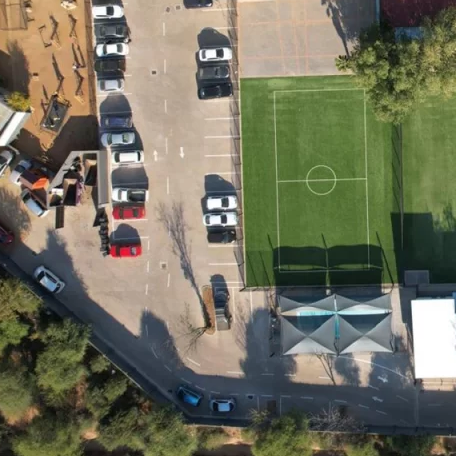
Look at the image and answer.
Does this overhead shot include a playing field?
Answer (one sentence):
Yes, a playing field is visible in the scene.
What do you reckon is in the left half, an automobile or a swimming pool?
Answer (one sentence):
Looking in the left half, you will find an automobile.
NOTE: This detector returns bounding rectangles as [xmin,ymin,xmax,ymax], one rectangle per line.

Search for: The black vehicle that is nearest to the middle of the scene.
[204,228,241,243]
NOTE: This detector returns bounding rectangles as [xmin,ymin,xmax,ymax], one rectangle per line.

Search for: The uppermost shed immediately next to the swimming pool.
[404,267,429,286]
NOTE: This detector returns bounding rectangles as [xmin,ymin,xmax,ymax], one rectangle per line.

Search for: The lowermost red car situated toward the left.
[112,243,142,258]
